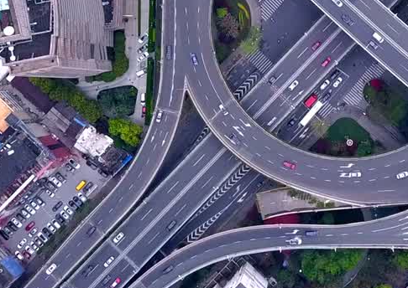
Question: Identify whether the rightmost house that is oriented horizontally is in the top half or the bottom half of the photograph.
bottom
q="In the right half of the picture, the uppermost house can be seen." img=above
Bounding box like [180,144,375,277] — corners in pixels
[257,184,344,225]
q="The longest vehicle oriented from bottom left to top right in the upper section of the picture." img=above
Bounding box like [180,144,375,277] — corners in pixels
[298,99,324,128]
